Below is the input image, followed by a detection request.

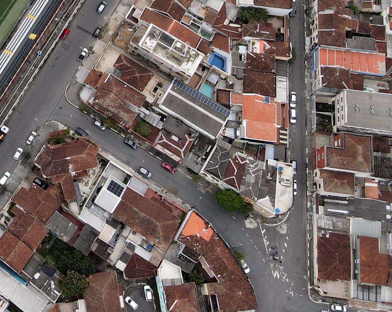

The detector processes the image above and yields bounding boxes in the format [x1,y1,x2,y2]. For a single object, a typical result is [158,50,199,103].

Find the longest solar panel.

[174,79,229,118]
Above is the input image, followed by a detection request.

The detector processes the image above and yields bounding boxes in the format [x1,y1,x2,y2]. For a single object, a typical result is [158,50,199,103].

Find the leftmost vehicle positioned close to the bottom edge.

[124,296,138,312]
